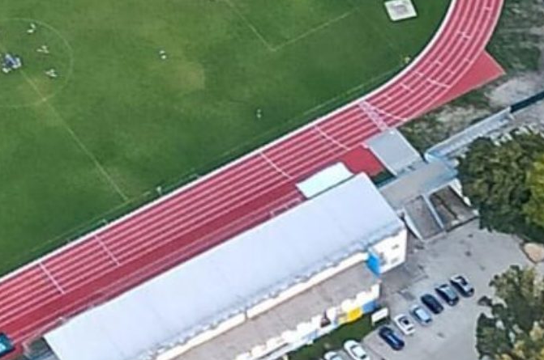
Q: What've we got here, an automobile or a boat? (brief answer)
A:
automobile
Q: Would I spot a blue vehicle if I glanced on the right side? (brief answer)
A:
Yes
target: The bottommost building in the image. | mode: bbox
[149,256,377,360]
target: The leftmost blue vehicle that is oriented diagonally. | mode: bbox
[377,326,407,350]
